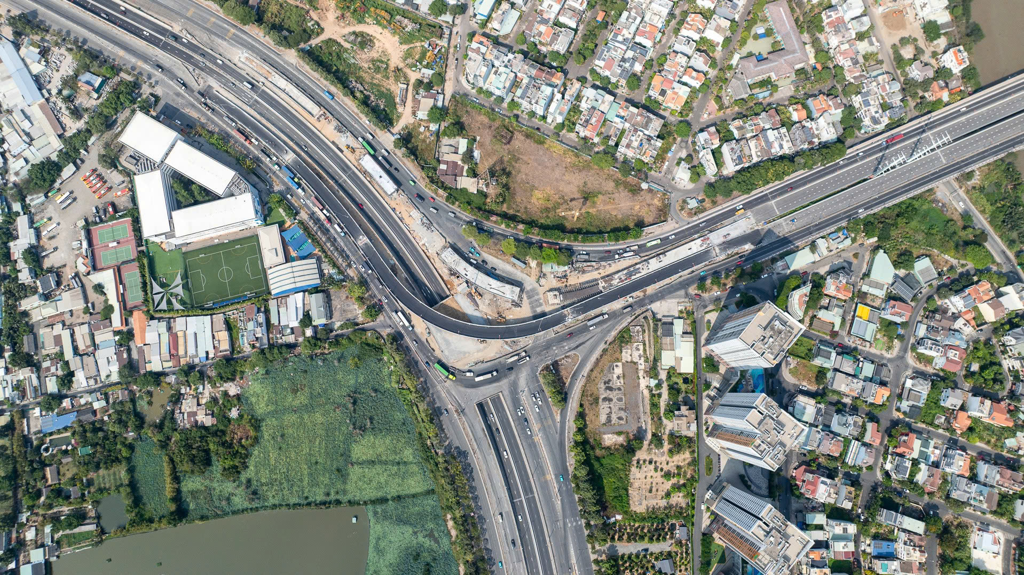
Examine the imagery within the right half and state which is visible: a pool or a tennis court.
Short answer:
pool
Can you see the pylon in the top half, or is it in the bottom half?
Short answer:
top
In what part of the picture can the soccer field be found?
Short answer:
left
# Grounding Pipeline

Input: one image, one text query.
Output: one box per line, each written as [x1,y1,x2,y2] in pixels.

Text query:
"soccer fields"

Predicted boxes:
[182,237,269,310]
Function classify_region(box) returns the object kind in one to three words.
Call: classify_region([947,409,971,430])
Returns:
house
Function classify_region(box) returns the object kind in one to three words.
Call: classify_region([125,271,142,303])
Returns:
tennis court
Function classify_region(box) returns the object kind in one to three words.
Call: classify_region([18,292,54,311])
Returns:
building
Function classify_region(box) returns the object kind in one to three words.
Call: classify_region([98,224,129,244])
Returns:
tennis court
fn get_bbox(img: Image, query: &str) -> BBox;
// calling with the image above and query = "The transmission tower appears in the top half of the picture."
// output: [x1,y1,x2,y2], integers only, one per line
[471,172,492,196]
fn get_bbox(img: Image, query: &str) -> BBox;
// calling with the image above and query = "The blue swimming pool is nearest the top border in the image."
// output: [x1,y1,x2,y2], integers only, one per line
[730,368,768,394]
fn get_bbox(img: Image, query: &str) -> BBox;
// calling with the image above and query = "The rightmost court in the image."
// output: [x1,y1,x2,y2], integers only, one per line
[283,224,319,262]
